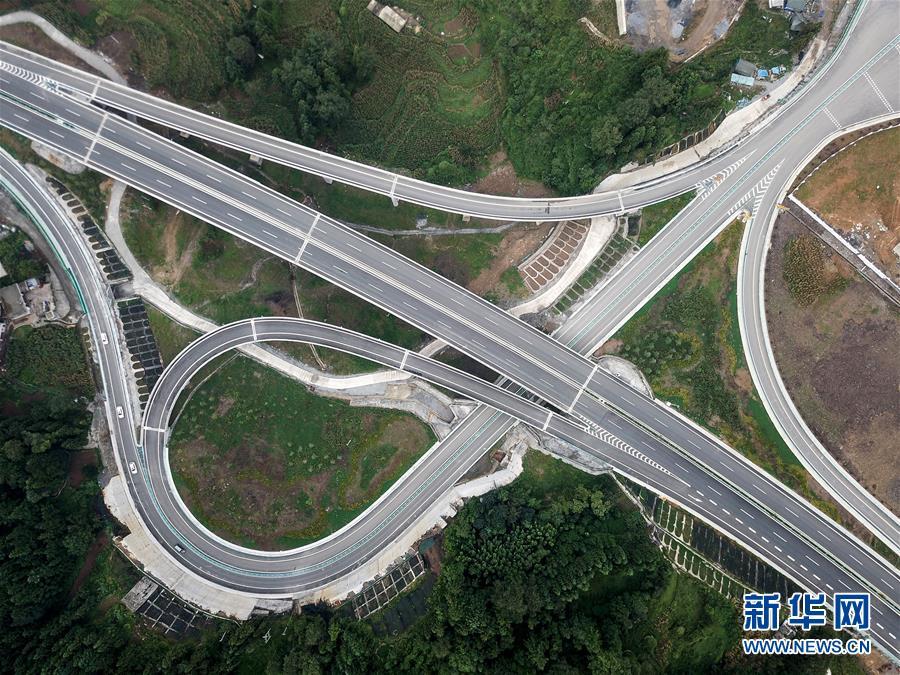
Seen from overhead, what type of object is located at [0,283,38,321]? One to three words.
house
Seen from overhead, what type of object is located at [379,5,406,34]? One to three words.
shed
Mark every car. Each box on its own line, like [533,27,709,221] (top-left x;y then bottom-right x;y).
[173,543,184,554]
[100,332,107,345]
[115,406,122,418]
[129,461,136,474]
